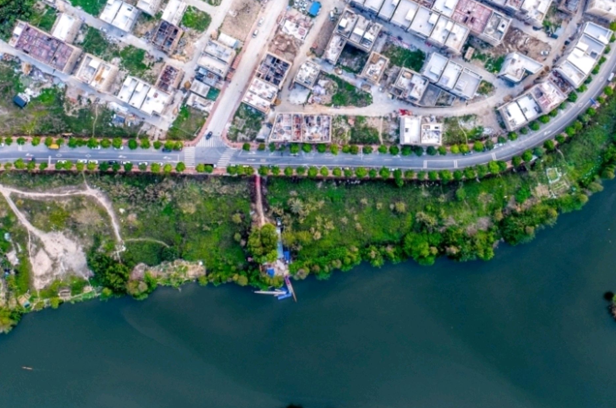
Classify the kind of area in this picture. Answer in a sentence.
The picture captures a residential area.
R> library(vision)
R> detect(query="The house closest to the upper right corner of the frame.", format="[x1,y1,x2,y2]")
[583,0,616,20]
